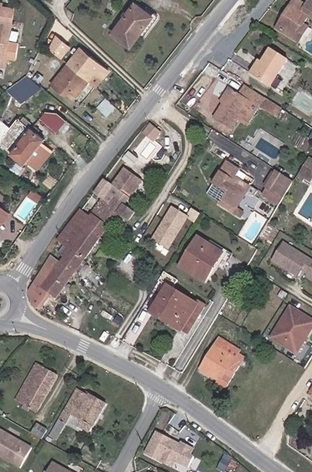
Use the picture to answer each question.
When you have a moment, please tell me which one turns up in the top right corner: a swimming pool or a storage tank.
swimming pool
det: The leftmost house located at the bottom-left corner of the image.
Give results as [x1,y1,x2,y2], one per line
[0,426,32,468]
